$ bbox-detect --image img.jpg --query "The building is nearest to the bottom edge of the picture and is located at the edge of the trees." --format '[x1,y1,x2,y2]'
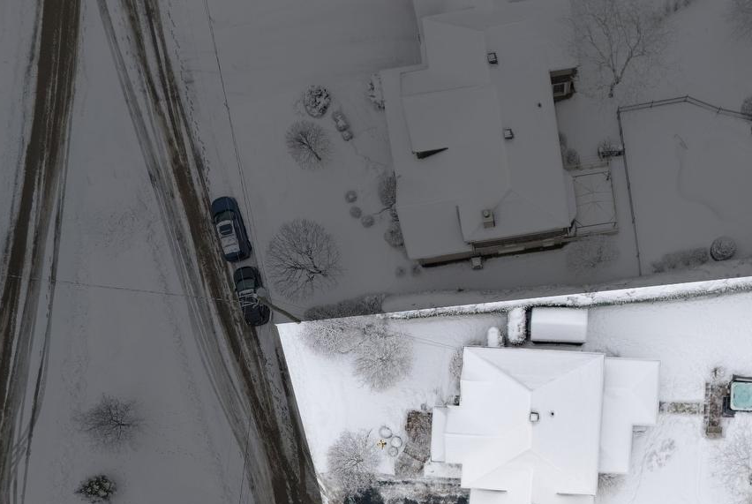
[431,346,661,504]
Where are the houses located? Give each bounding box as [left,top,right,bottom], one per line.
[380,0,579,260]
[431,346,661,504]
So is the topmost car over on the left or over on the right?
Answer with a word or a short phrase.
left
